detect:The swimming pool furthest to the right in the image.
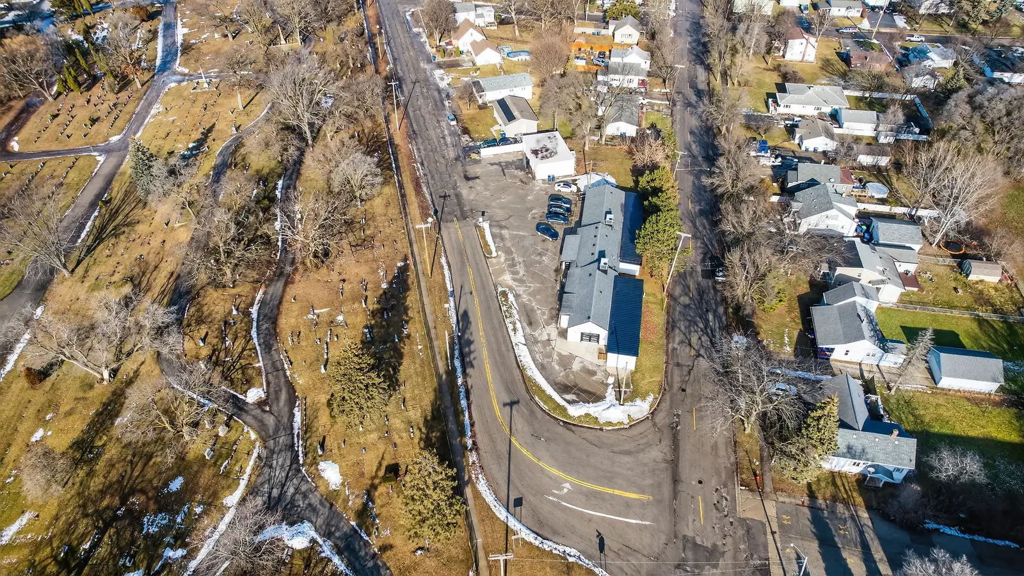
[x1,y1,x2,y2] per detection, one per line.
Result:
[865,181,894,199]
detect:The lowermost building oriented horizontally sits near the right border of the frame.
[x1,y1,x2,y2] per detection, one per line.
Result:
[925,349,1014,393]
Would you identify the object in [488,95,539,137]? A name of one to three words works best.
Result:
house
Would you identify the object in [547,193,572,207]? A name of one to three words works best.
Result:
car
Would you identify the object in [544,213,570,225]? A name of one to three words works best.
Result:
vehicle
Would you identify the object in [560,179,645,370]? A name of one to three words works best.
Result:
building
